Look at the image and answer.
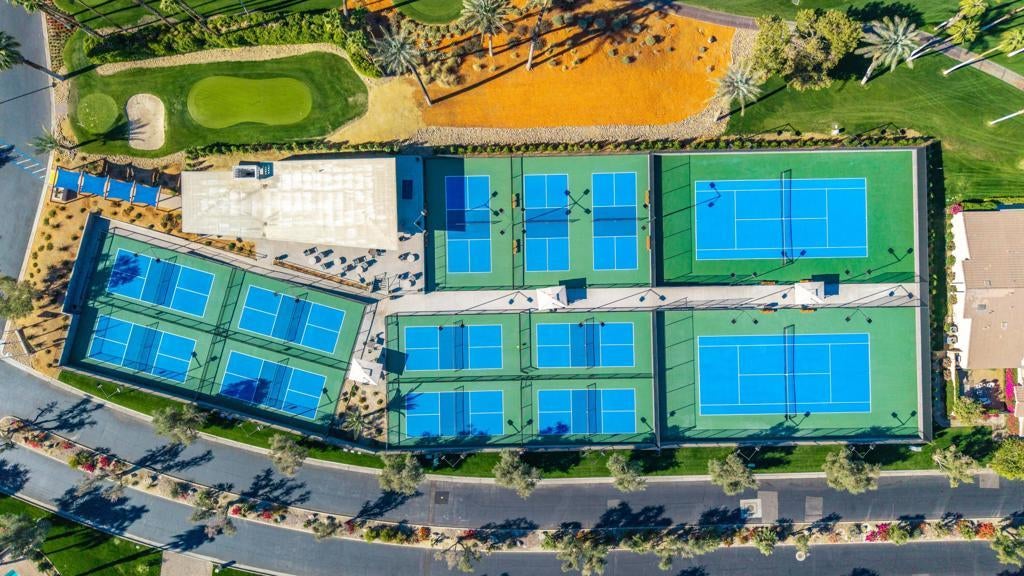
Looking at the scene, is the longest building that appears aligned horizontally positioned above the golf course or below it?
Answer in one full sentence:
Looking at the scene, the longest building that appears aligned horizontally is located below the golf course.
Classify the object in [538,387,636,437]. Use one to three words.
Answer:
sports court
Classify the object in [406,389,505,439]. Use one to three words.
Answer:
sports court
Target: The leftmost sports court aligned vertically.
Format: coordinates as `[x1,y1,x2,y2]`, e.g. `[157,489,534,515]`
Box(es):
[444,176,493,273]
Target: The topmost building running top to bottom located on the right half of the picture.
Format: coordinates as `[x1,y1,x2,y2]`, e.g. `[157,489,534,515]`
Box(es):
[950,209,1024,369]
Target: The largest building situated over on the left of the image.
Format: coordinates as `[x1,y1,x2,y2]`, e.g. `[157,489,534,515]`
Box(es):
[181,154,428,250]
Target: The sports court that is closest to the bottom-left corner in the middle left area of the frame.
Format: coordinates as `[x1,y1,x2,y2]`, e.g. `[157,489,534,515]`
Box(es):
[87,315,196,383]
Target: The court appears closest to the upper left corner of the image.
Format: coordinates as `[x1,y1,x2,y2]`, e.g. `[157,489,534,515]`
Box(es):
[105,248,214,317]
